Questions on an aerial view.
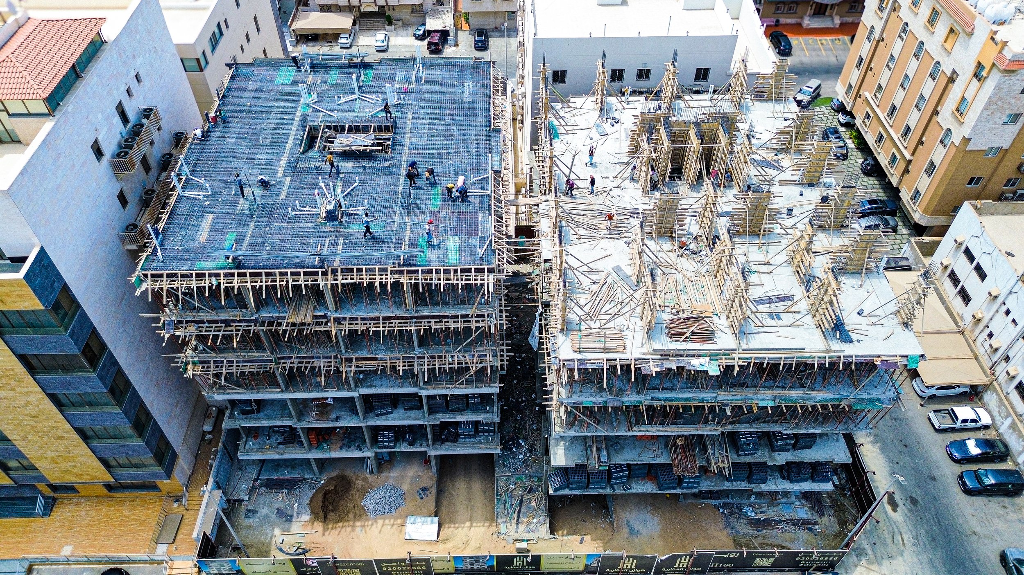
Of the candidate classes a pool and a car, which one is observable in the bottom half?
car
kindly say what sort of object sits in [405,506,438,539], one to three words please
shed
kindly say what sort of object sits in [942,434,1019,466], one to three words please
car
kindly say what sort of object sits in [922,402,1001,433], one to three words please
car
